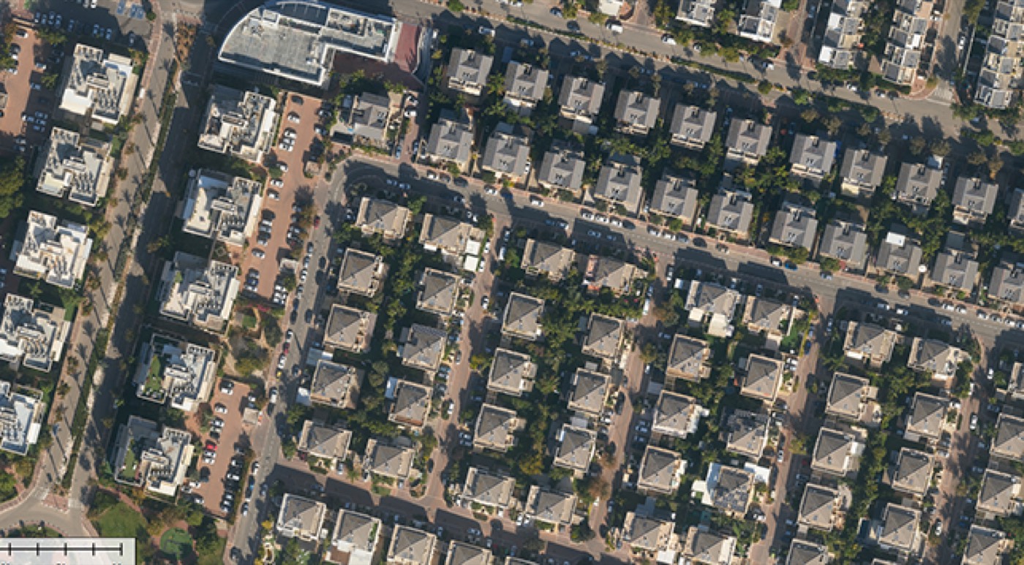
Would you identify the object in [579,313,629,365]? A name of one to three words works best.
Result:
house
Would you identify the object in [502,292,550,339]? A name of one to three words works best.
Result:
house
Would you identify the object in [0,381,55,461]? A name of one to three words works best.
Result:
building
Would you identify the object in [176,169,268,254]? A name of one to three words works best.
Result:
building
